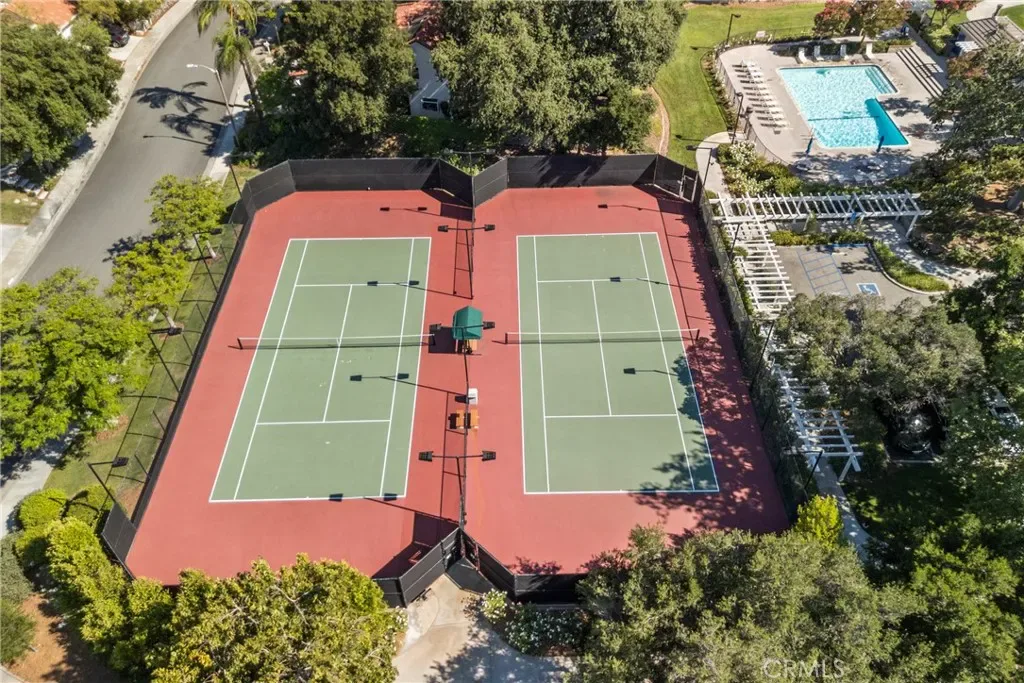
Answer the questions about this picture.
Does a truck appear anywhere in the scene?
No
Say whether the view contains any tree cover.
Yes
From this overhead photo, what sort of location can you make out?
sports ground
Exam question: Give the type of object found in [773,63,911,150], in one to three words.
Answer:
swimming pool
